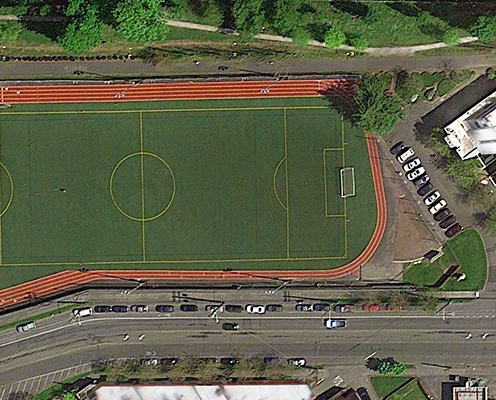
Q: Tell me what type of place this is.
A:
sports ground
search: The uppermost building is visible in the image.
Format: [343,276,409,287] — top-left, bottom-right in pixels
[443,94,496,160]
